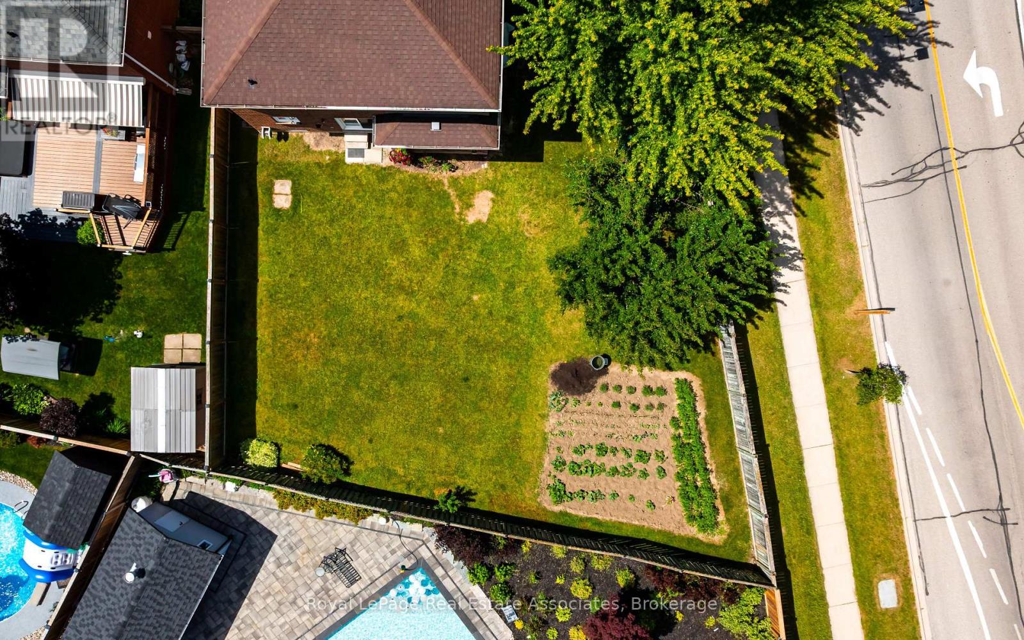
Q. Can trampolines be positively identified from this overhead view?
No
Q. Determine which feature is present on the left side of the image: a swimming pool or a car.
swimming pool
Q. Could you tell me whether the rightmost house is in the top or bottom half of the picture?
top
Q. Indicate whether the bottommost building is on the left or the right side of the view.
left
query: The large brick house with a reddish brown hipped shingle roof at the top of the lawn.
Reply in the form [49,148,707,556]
[200,0,506,157]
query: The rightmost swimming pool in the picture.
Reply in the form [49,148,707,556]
[312,557,484,640]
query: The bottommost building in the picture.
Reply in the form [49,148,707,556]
[60,500,243,640]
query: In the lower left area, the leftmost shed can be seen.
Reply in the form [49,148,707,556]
[23,447,126,550]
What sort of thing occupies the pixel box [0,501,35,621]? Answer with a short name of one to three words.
swimming pool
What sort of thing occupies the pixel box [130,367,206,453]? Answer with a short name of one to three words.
shed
